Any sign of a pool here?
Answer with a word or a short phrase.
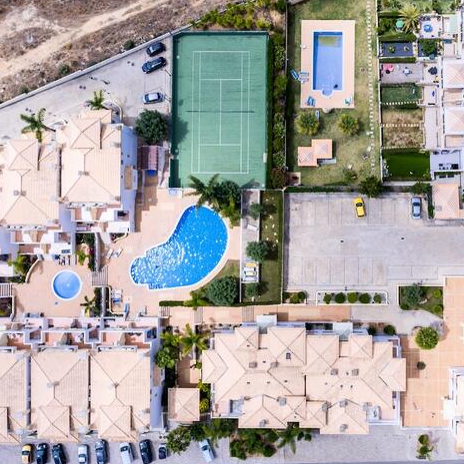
Yes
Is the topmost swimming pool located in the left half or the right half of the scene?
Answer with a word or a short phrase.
right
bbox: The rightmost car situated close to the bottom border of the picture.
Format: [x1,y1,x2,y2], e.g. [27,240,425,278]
[200,440,215,463]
